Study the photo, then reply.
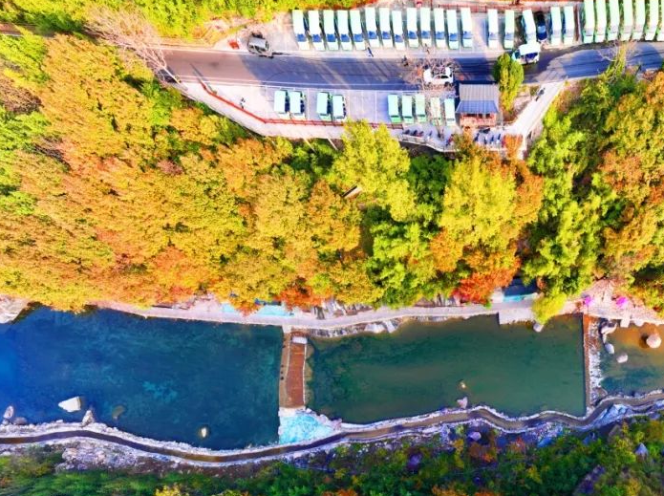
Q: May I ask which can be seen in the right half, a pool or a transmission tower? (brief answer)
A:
pool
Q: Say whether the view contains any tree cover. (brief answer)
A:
Yes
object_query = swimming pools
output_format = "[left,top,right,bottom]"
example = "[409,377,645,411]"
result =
[0,307,280,451]
[304,314,583,426]
[596,325,664,400]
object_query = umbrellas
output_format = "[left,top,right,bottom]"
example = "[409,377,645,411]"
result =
[616,296,628,307]
[582,295,592,305]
